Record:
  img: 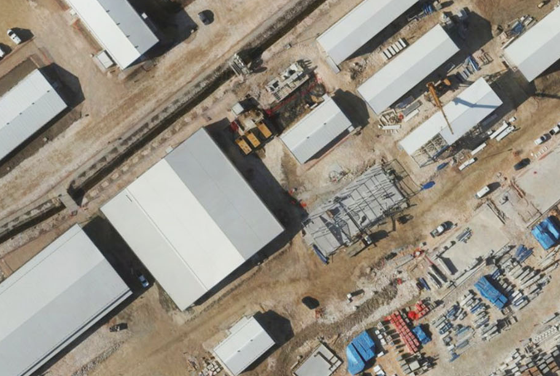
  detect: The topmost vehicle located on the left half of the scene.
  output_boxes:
[196,9,210,23]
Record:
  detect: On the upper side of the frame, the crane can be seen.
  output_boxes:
[418,75,454,142]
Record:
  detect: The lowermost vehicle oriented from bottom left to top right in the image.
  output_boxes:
[434,223,451,236]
